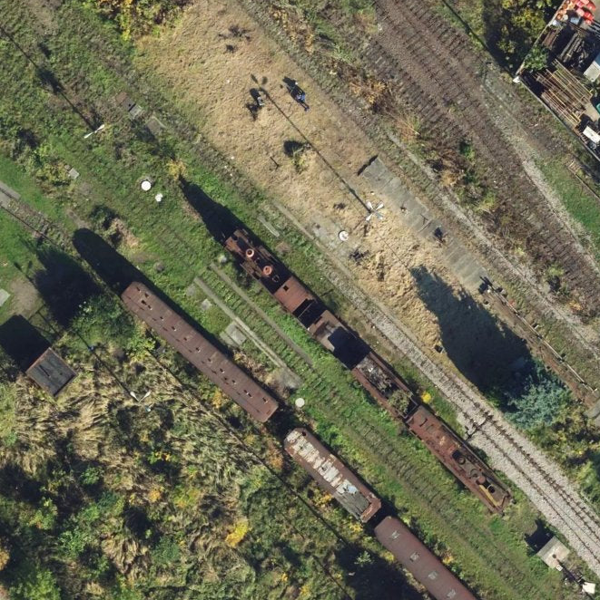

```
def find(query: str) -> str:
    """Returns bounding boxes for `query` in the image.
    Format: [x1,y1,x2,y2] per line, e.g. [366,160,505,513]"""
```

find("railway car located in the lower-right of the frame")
[404,406,516,516]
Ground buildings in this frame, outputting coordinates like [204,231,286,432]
[536,537,570,568]
[25,346,77,396]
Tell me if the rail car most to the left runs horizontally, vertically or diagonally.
diagonally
